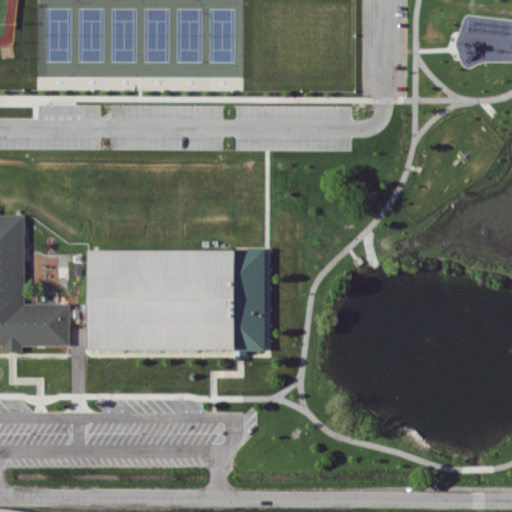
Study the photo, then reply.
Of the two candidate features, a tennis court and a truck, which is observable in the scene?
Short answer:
tennis court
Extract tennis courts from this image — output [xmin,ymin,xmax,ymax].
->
[78,8,104,63]
[145,8,170,63]
[176,8,202,63]
[45,8,72,63]
[210,8,236,63]
[110,8,137,63]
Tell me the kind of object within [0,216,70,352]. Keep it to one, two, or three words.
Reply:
building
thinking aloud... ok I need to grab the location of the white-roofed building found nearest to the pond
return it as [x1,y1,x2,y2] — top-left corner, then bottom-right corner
[87,250,238,351]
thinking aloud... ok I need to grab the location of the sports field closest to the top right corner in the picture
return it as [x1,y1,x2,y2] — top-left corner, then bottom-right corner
[244,0,361,94]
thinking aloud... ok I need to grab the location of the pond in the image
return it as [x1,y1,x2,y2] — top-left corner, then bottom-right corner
[328,268,512,454]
